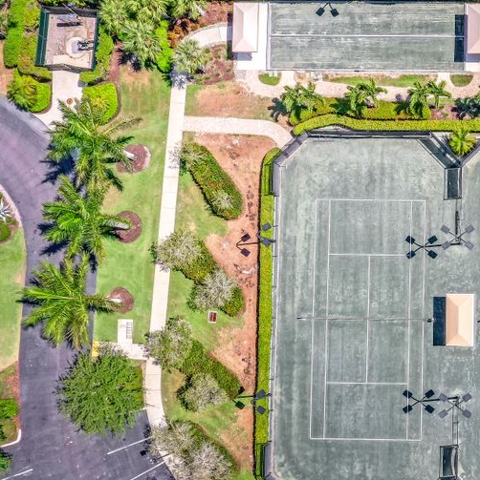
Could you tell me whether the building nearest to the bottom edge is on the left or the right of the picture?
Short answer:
right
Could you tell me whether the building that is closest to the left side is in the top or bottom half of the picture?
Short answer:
top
